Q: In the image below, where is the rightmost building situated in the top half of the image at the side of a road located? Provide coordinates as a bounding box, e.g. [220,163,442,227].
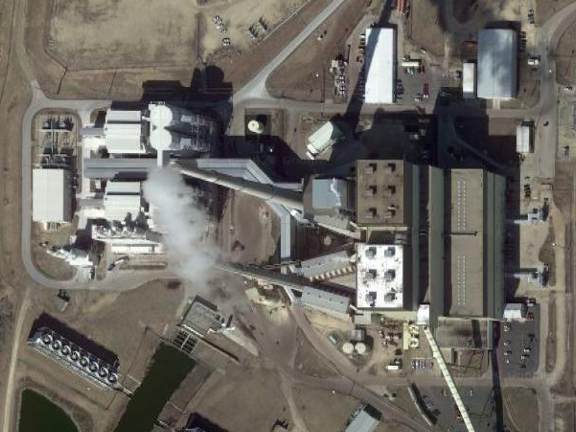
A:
[517,125,533,153]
